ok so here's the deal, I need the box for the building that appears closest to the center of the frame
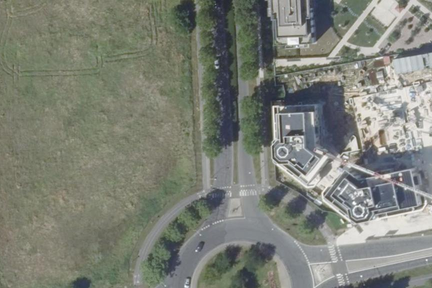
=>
[271,104,329,188]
